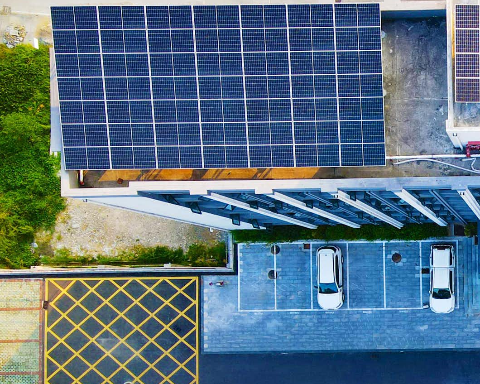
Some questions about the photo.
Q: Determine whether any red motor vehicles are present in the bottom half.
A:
No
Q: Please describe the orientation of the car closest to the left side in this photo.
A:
vertically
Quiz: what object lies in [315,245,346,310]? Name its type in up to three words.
car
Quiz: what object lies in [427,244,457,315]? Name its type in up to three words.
truck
